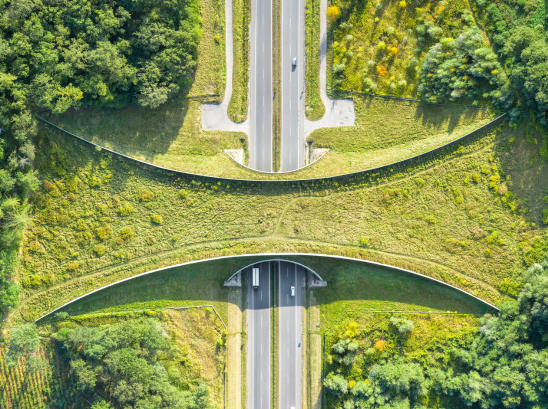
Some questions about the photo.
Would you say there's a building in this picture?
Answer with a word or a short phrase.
No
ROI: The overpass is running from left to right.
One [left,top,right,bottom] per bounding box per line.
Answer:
[35,113,506,323]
